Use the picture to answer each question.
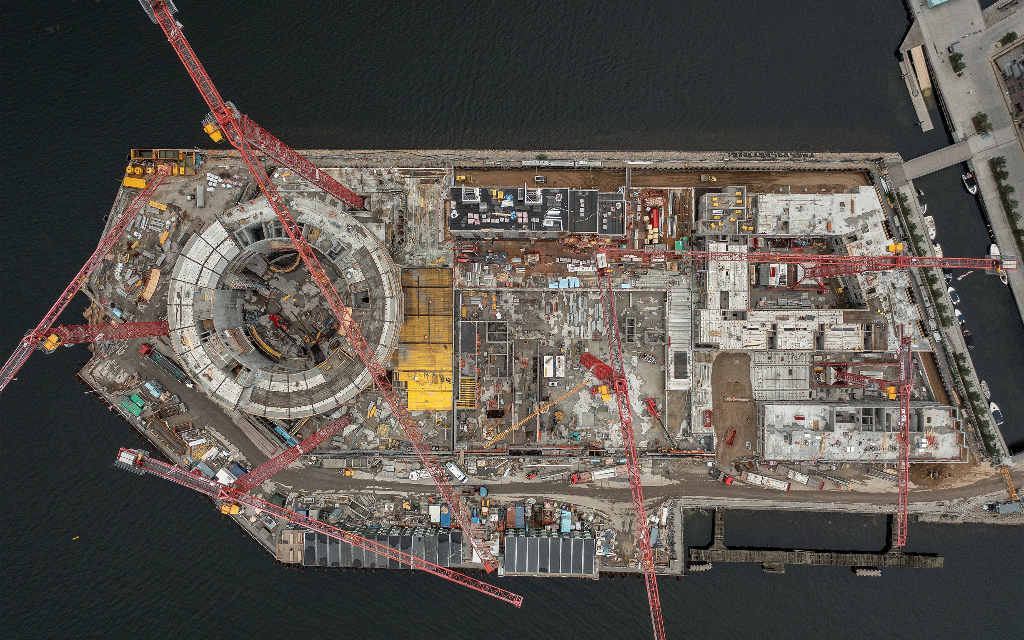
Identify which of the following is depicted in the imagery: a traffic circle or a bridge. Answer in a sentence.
The image shows a bridge.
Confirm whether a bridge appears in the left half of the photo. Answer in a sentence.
No, I can find no bridge in the left half of the photo.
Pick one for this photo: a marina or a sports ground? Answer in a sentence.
This looks like a marina.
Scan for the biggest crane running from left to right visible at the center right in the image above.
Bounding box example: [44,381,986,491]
[593,245,1018,294]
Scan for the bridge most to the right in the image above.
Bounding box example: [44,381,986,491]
[901,140,977,181]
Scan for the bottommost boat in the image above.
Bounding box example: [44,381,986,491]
[992,404,1006,426]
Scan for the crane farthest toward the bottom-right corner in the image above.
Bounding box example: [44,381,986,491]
[811,325,920,548]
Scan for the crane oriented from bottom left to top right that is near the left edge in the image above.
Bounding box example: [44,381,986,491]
[0,163,176,386]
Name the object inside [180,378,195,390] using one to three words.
vehicle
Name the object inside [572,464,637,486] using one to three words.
truck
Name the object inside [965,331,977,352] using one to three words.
boat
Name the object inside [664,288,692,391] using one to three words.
building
